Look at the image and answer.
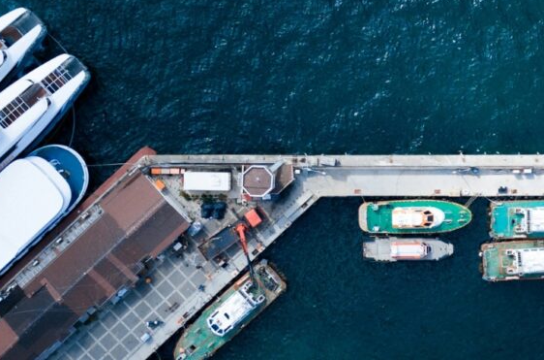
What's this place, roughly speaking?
port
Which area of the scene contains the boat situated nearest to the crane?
bottom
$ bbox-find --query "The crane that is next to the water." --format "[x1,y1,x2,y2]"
[232,219,262,295]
